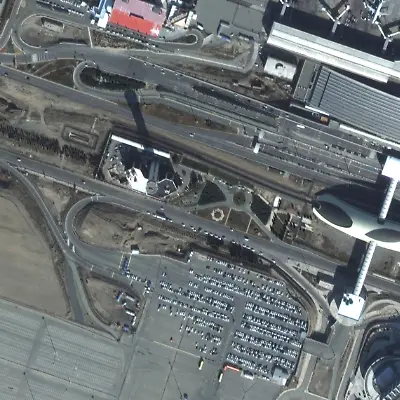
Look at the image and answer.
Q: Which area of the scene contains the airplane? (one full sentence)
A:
The airplane is located in the top right region of the scene.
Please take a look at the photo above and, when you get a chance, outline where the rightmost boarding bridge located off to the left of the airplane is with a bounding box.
[322,4,350,33]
